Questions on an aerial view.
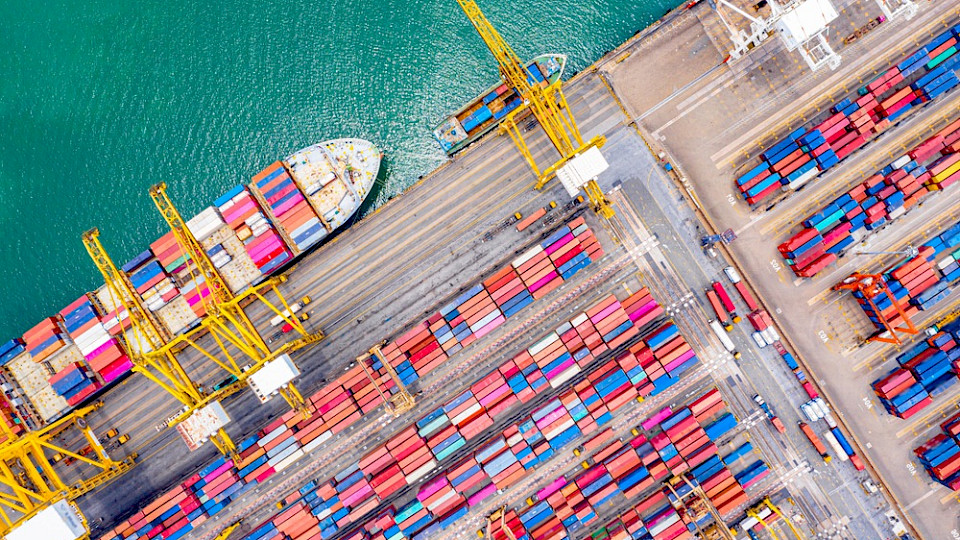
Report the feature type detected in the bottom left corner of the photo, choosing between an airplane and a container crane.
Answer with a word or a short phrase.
container crane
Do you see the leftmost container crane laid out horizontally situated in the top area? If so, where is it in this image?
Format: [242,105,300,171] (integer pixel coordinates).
[685,0,836,69]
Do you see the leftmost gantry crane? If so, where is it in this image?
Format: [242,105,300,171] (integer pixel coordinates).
[0,404,135,540]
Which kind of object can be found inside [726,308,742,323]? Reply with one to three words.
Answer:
vehicle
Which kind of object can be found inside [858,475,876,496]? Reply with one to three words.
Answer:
work vehicle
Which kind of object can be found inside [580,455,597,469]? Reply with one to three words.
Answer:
vehicle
